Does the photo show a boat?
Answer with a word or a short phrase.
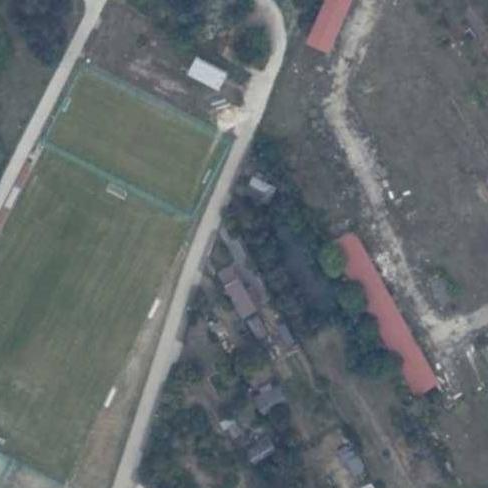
No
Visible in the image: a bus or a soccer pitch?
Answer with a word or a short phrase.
soccer pitch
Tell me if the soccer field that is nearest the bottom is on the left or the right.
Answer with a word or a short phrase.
left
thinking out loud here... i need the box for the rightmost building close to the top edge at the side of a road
[306,0,351,54]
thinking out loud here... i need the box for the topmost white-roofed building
[188,56,227,91]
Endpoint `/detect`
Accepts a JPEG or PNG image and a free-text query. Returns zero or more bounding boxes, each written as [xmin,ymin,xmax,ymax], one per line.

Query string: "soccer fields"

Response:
[47,68,224,214]
[0,150,192,486]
